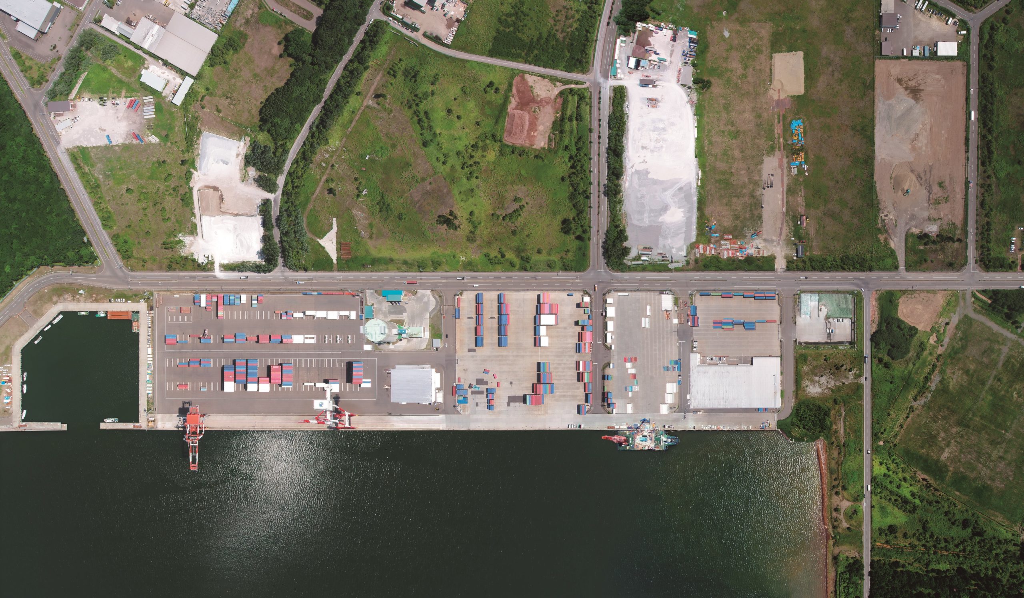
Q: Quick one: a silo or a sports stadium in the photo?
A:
silo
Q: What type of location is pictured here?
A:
port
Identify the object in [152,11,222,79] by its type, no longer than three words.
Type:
building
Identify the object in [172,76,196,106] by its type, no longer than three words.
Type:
shed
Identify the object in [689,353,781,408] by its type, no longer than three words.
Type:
building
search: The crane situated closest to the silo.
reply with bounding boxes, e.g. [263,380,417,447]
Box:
[315,386,352,445]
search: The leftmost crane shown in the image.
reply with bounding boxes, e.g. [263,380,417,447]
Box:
[180,405,217,473]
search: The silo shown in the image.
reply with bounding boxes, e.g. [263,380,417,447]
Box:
[359,318,393,343]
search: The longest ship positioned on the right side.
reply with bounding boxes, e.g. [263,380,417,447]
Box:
[601,430,664,450]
